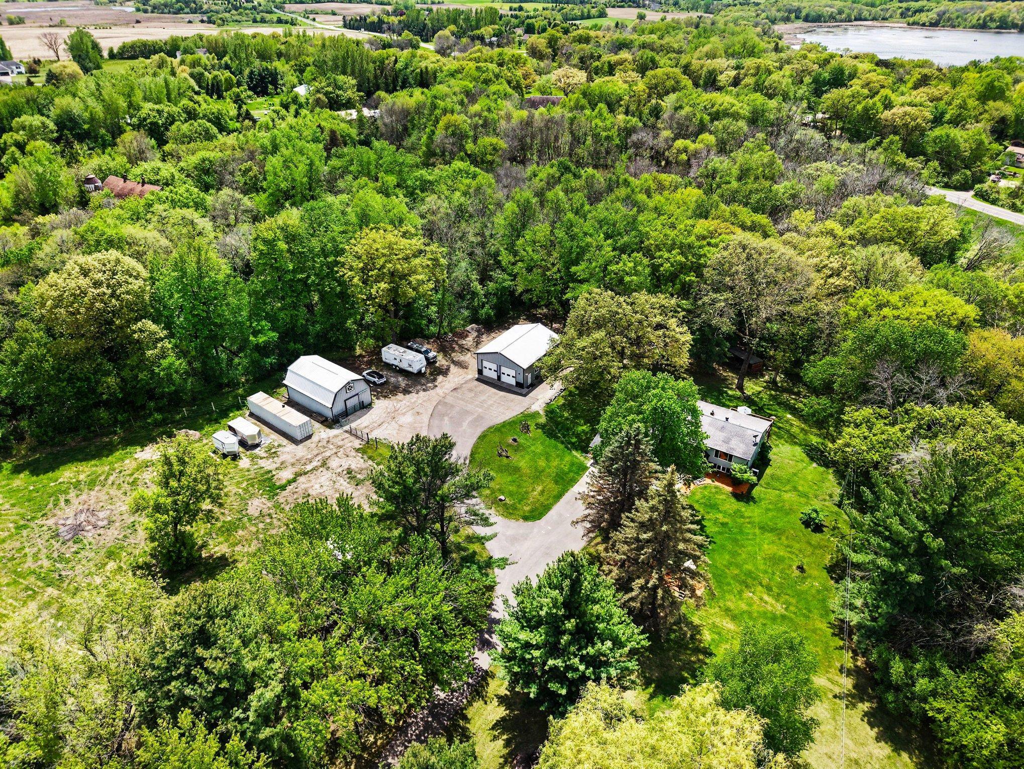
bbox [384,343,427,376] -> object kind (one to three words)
trailer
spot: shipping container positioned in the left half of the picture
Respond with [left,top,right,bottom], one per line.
[247,391,313,440]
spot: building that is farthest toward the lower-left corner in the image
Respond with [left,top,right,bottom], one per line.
[287,357,372,421]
